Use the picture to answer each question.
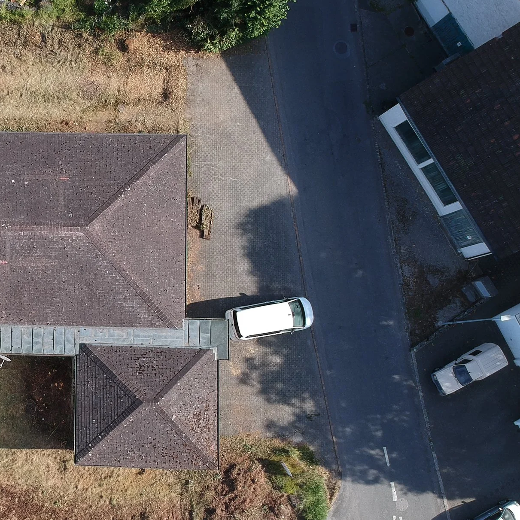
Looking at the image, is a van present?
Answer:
Yes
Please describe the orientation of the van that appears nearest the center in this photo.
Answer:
from left to right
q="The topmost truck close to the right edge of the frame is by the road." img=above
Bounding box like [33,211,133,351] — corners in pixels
[422,341,514,402]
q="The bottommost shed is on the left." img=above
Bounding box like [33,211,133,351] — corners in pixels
[56,343,251,482]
